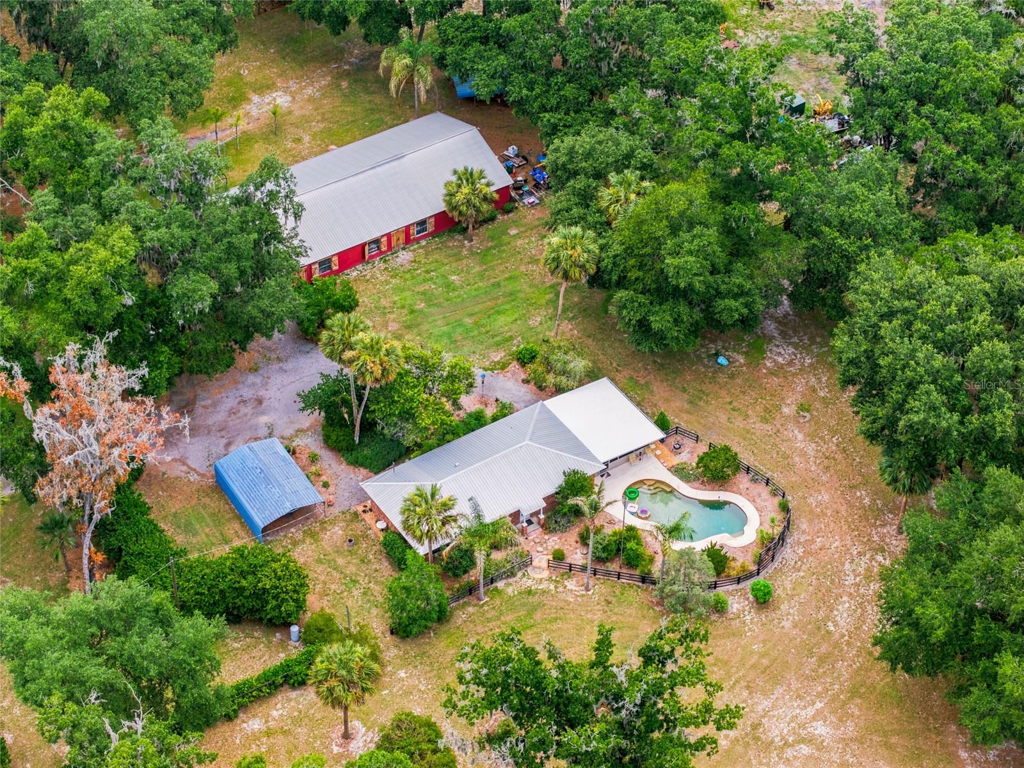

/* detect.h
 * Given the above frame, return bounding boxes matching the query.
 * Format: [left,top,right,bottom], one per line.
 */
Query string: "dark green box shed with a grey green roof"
[785,90,811,122]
